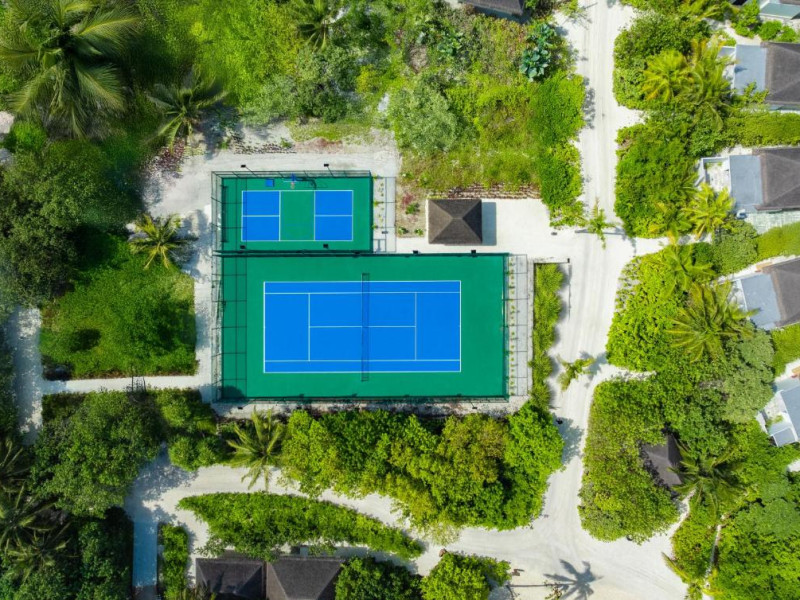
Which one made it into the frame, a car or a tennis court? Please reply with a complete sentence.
It is a tennis court that can be seen here.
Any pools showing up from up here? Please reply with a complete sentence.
No, there appears to be no pool in this shot.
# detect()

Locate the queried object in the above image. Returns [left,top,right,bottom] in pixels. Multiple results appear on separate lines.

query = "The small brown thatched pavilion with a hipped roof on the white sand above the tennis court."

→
[427,198,483,246]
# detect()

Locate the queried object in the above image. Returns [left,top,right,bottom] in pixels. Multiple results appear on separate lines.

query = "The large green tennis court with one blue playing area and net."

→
[223,256,504,397]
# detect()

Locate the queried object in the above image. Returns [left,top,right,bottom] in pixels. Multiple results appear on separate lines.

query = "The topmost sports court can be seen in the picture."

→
[223,178,373,255]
